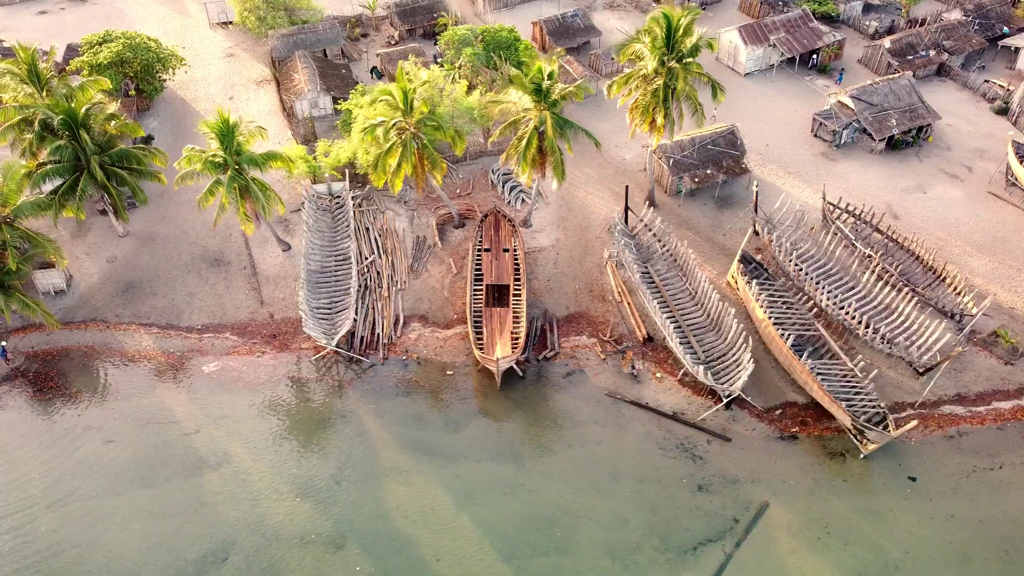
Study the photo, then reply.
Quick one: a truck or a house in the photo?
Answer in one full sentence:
Of the two, only a house appears.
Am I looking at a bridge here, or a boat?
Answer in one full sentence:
Looking from above, you can make out a boat.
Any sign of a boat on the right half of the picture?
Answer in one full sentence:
Yes, there is a boat on the right half of the picture.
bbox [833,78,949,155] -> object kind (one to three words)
house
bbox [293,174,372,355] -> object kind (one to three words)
boat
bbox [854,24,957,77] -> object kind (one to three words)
shed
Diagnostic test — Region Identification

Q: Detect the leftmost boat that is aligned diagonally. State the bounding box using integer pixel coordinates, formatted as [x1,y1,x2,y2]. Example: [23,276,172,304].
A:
[621,185,758,403]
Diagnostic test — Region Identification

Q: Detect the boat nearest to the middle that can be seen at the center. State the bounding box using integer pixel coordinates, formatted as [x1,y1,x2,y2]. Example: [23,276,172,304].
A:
[464,207,530,392]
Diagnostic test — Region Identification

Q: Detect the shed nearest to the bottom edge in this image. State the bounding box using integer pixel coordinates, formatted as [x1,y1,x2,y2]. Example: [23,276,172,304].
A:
[646,130,773,202]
